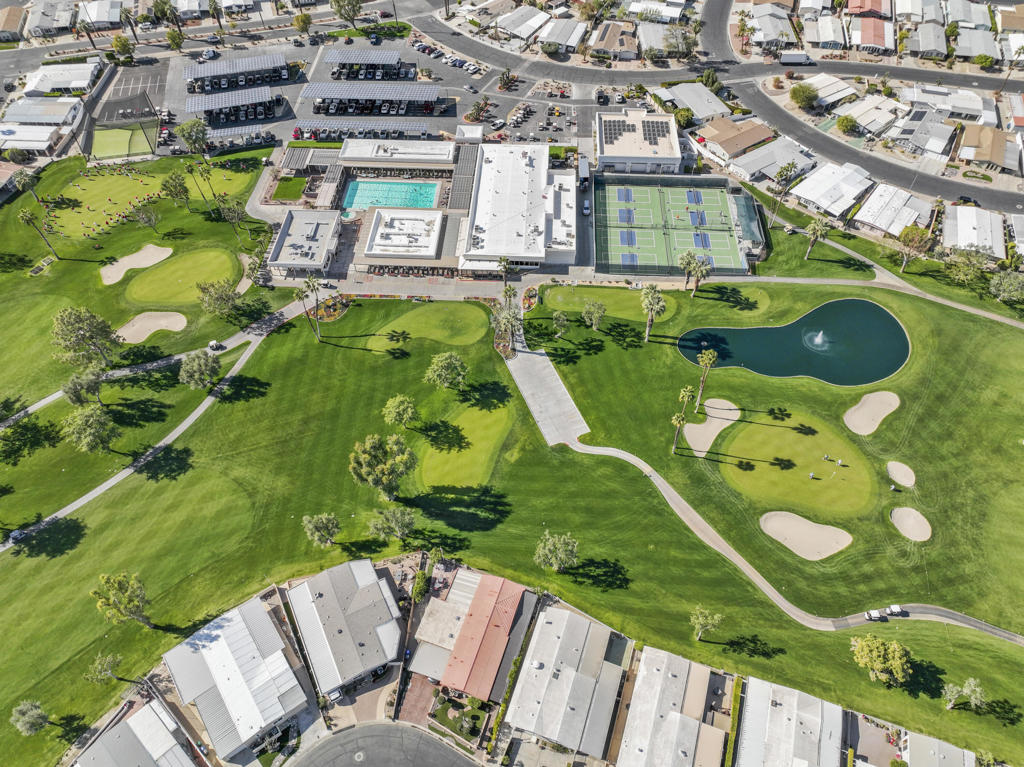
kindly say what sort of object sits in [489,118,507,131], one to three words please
vehicle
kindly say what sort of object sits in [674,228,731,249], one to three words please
sports court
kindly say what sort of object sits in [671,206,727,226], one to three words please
sports court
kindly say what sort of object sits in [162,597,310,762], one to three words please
house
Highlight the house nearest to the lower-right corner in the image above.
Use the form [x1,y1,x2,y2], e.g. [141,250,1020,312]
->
[902,731,975,767]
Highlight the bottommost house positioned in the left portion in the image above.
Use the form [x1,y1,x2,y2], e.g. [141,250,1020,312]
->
[77,700,194,767]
